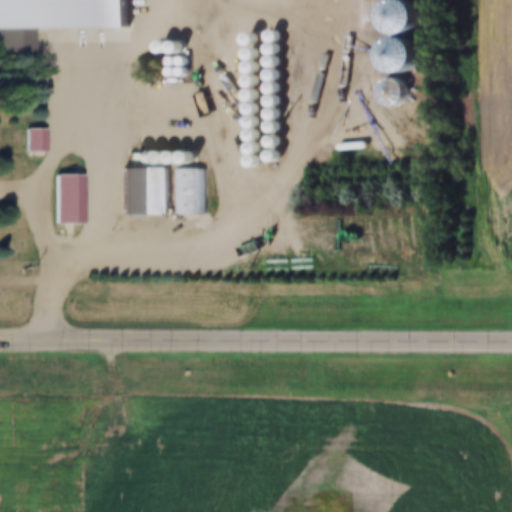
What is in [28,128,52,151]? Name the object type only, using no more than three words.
building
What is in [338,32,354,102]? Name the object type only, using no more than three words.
vehicle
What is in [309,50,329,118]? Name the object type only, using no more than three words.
vehicle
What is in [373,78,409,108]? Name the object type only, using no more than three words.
silo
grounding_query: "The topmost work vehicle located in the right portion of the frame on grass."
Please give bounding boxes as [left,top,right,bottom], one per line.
[332,220,360,251]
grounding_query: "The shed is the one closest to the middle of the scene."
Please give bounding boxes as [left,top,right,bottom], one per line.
[175,168,207,214]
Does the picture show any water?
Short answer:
No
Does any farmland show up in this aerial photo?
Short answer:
Yes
